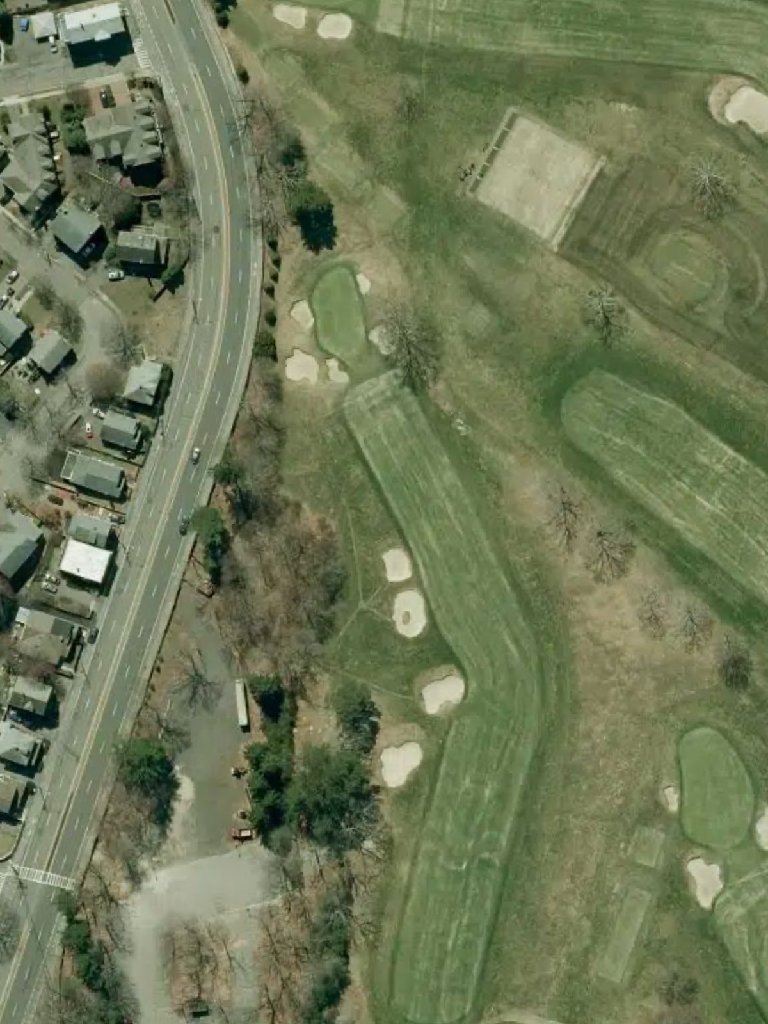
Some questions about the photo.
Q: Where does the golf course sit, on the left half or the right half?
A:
right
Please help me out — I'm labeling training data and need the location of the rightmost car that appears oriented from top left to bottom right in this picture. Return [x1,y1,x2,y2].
[91,408,106,420]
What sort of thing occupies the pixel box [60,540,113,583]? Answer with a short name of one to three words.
building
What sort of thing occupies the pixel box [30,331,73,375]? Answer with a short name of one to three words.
house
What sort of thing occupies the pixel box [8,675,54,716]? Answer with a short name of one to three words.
house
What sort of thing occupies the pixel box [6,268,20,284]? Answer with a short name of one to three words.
car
